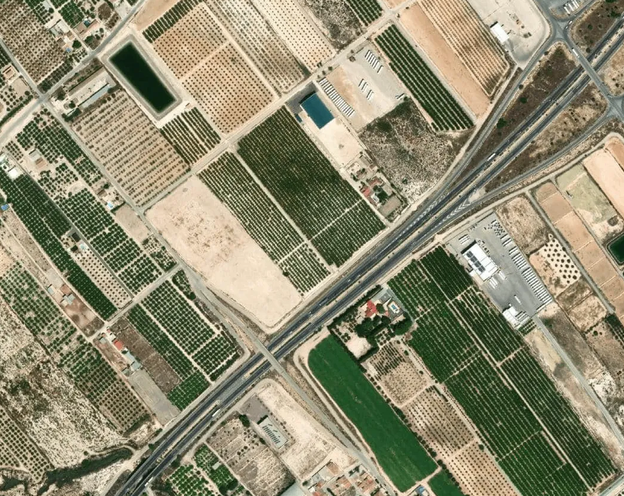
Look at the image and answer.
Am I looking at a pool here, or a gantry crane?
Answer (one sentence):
It is a pool that can be seen here.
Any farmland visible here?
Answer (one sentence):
Yes, farmland shows up in the scene.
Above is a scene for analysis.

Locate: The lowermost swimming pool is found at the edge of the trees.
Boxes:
[383,297,405,319]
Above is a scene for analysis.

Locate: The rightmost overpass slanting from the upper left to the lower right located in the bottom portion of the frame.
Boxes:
[209,290,321,414]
